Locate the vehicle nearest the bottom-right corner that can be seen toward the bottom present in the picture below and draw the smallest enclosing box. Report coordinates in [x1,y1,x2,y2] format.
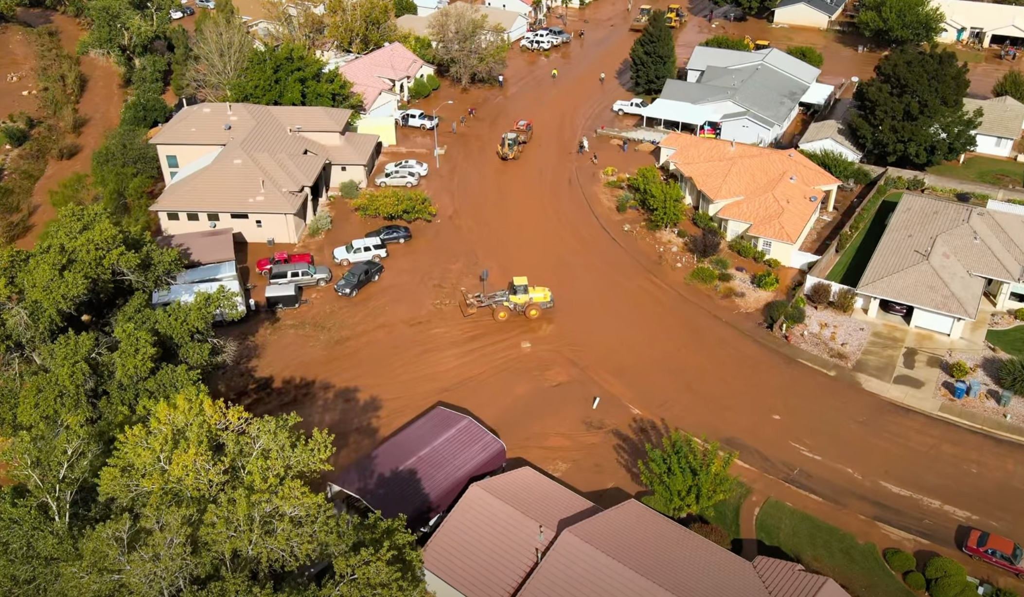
[960,530,1024,580]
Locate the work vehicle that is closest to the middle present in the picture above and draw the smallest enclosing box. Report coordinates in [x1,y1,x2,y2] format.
[456,275,553,324]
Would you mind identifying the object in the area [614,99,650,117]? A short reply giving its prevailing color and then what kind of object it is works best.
white vehicle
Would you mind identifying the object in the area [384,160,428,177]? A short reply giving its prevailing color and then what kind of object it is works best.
white car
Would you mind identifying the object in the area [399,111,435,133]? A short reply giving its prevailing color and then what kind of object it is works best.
white truck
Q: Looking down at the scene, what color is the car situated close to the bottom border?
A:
red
